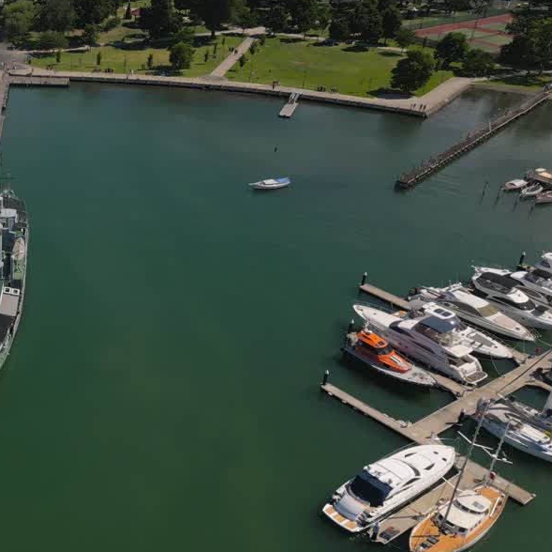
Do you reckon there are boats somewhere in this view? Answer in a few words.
Yes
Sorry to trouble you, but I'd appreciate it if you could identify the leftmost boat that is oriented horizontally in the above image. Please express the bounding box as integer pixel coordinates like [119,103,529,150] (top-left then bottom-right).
[250,177,292,191]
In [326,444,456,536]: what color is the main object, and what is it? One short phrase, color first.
white boat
